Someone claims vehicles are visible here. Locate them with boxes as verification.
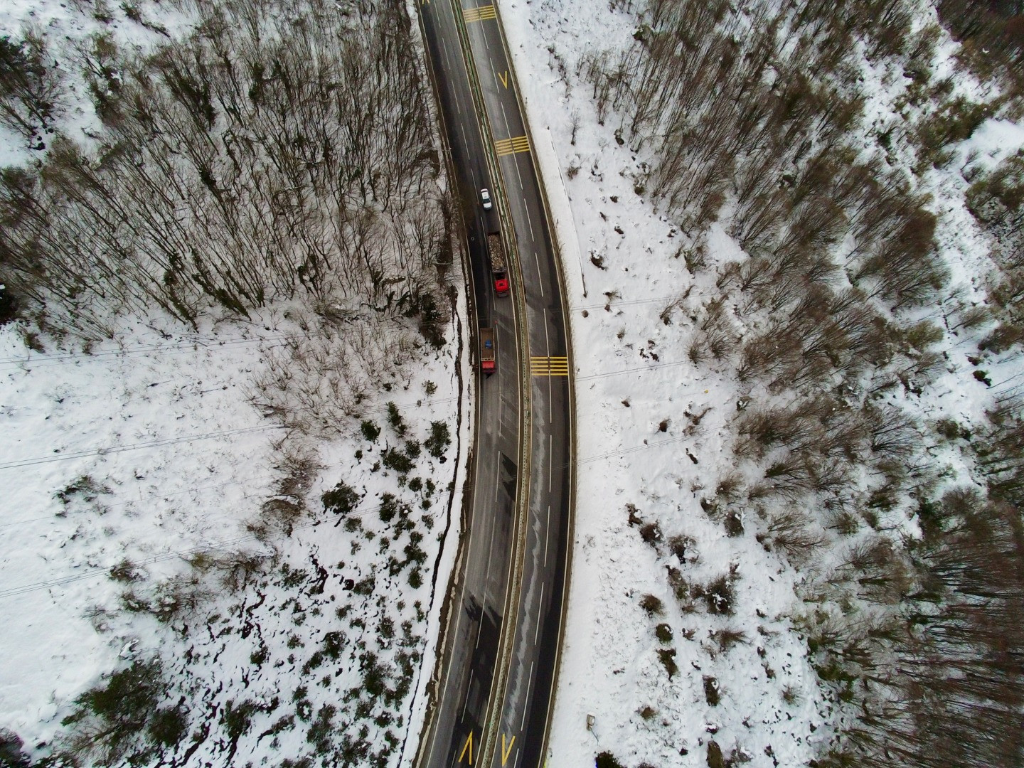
[480,328,496,374]
[488,232,510,299]
[481,190,492,211]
